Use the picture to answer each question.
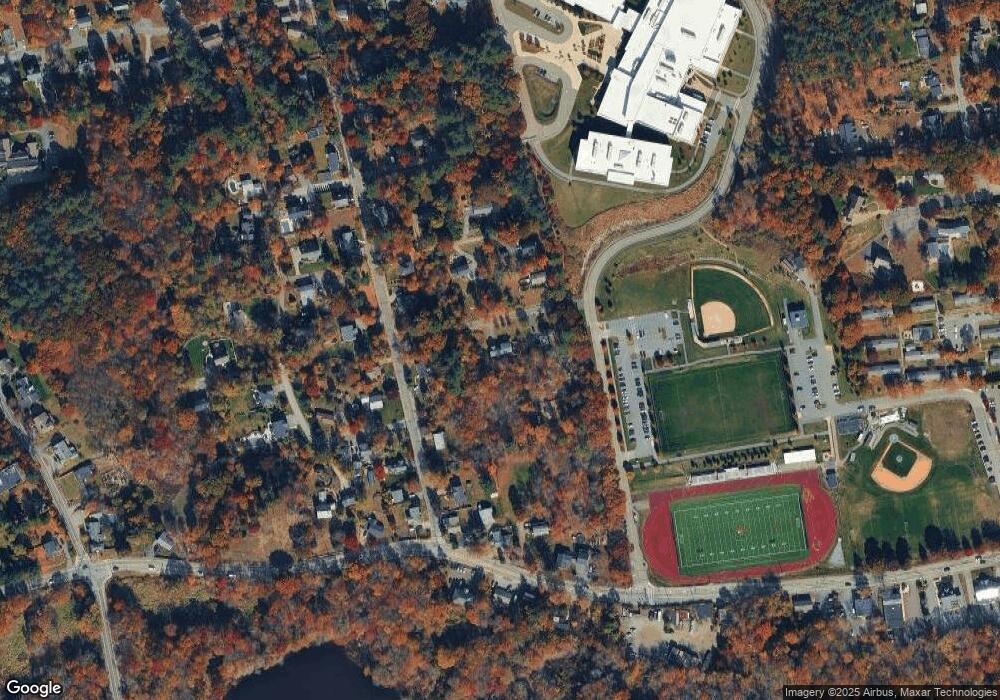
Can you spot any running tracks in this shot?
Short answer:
Yes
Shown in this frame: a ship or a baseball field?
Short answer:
baseball field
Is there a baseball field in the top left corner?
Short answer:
No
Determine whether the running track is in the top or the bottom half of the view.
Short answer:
bottom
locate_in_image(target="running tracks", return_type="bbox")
[642,468,837,583]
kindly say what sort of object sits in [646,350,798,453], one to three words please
sports field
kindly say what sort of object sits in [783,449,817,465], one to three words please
shed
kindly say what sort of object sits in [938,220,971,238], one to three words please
house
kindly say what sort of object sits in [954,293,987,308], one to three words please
building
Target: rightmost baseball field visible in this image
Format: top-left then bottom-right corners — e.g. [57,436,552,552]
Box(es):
[840,422,1000,552]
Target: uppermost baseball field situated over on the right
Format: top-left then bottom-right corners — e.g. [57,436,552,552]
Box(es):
[691,265,774,345]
